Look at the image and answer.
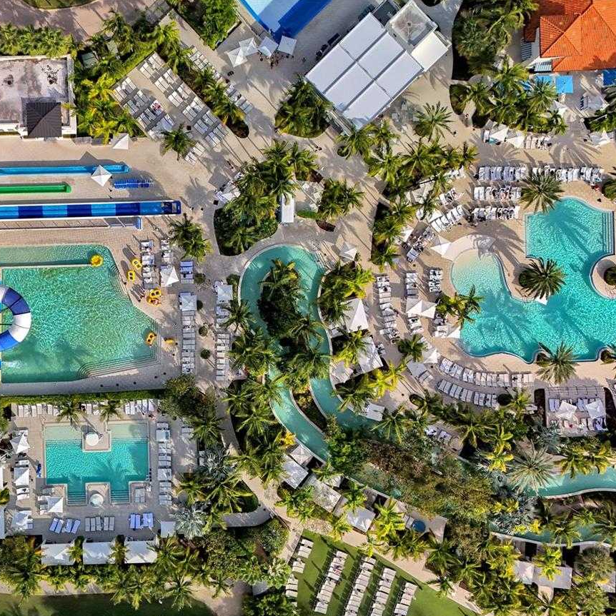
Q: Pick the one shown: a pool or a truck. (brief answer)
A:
pool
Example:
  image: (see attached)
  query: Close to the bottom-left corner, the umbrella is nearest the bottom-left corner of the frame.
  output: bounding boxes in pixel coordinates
[11,508,32,530]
